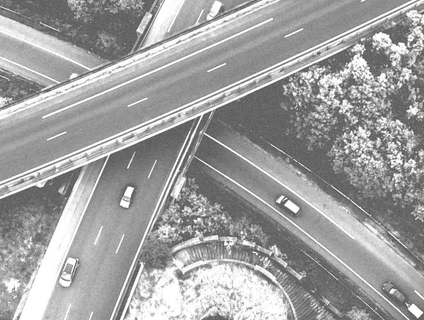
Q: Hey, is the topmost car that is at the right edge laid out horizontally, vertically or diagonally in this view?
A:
diagonally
